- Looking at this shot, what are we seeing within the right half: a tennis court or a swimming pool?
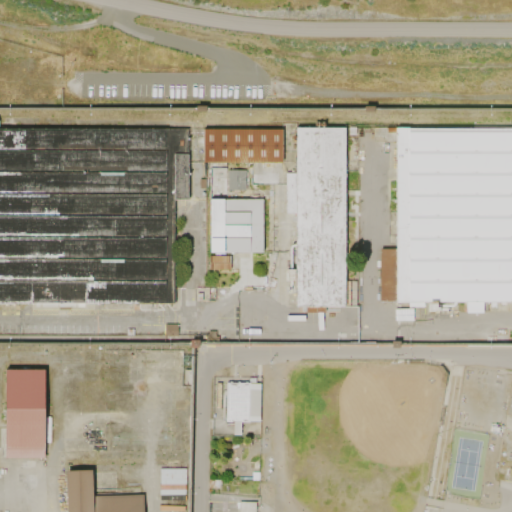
tennis court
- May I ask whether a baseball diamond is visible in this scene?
Yes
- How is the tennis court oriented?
up and down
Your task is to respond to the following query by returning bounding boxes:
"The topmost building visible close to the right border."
[396,127,512,303]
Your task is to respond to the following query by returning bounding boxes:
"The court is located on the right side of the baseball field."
[448,428,489,498]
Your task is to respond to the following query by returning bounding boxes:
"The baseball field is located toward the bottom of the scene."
[344,364,437,461]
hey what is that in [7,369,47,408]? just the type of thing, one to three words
shed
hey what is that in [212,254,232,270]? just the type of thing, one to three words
house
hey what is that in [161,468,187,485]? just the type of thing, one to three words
shed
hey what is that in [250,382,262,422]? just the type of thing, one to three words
building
